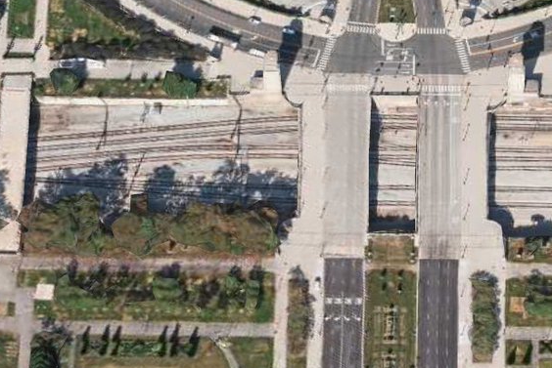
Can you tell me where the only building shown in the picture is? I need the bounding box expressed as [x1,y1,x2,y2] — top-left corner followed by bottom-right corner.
[34,284,54,305]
